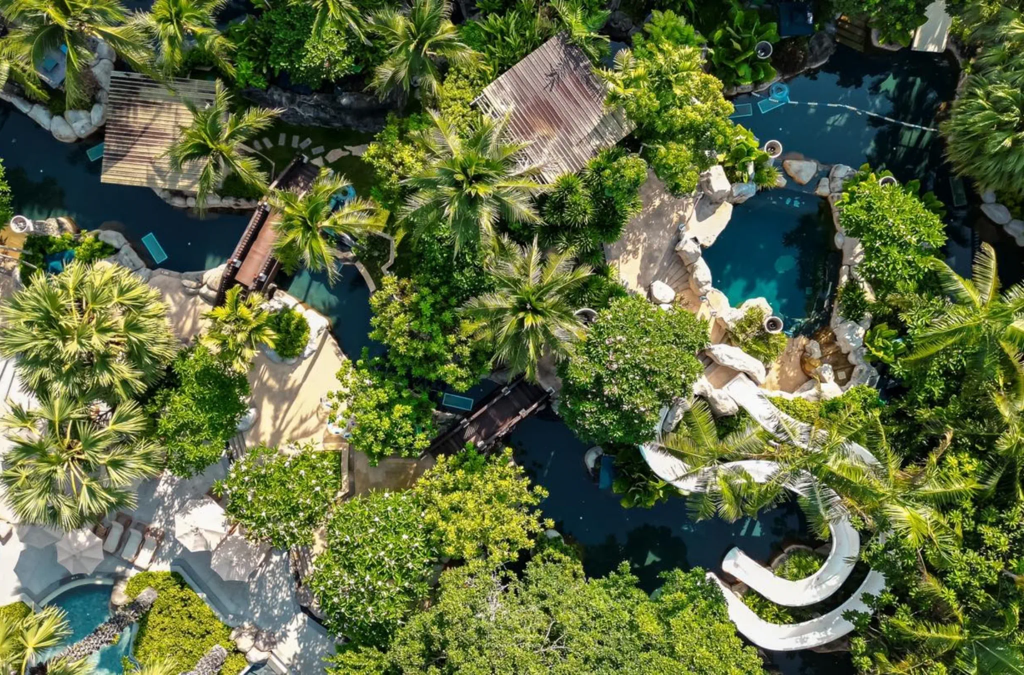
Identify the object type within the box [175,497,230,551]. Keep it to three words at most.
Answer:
umbrella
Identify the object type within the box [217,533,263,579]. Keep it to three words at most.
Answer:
umbrella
